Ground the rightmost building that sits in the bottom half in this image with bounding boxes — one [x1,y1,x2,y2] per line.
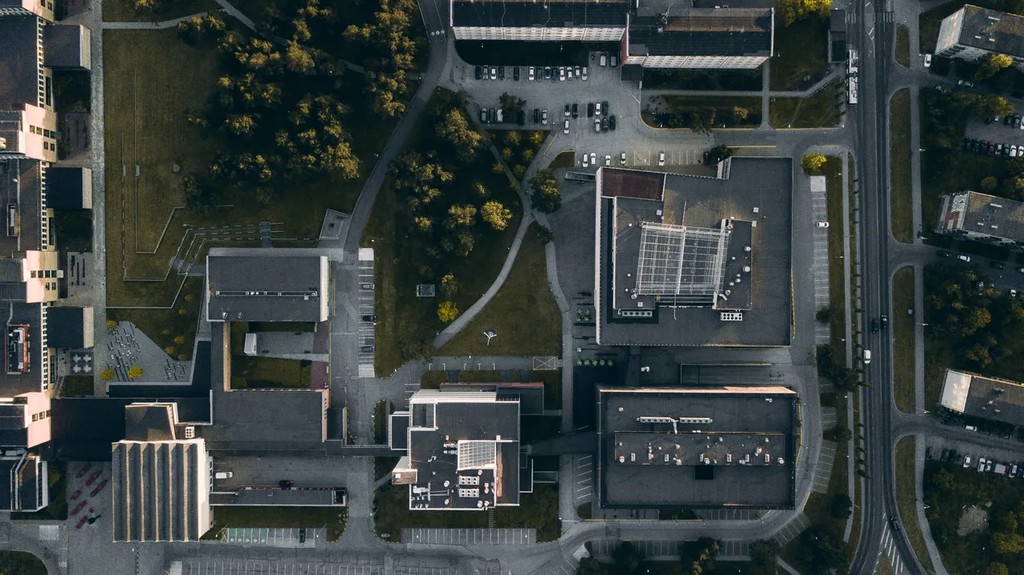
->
[941,371,1024,431]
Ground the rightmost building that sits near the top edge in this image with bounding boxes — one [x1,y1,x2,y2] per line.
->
[936,5,1024,79]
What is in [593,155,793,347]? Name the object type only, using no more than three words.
building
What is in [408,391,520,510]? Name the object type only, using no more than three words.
building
